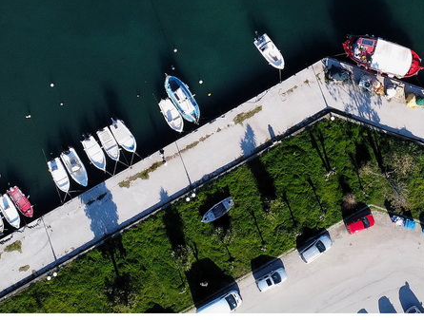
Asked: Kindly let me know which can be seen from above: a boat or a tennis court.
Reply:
boat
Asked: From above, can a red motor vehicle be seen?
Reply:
Yes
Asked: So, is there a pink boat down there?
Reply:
Yes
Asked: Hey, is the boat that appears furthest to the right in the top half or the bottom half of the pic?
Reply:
top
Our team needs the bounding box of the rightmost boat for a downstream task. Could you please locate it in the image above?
[341,37,424,77]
